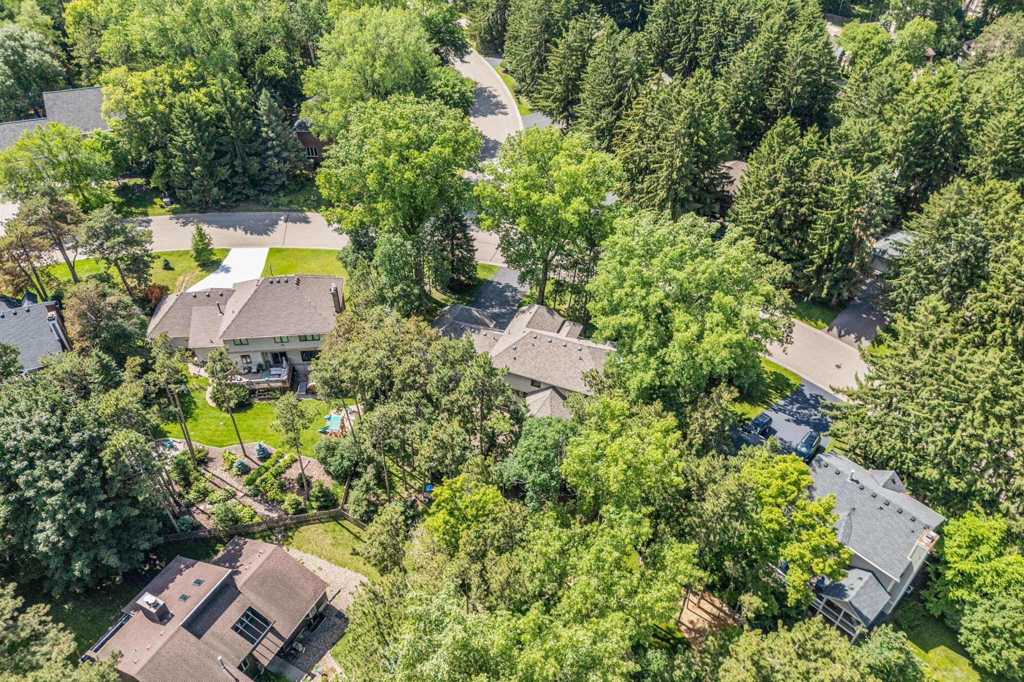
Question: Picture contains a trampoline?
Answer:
No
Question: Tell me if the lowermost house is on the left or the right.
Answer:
left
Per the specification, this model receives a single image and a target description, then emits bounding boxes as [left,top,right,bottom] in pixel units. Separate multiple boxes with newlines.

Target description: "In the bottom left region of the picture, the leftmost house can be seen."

[71,536,329,682]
